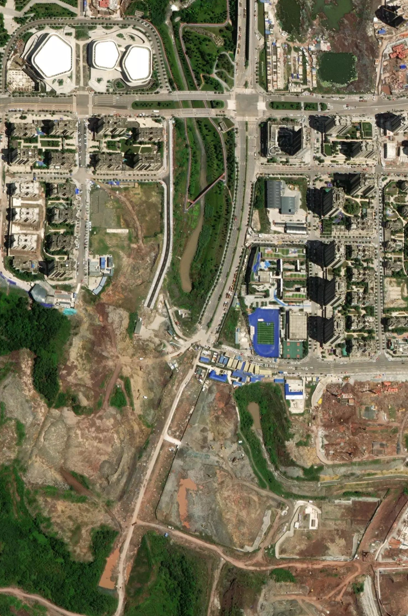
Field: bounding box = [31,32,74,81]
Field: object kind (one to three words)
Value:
stadium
